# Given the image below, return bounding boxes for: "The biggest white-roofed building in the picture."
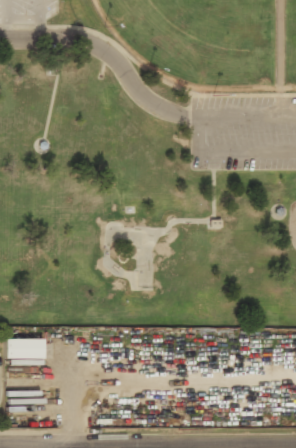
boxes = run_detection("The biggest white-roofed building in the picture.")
[5,340,47,360]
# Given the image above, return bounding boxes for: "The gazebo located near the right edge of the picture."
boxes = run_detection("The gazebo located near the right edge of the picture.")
[271,204,286,220]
